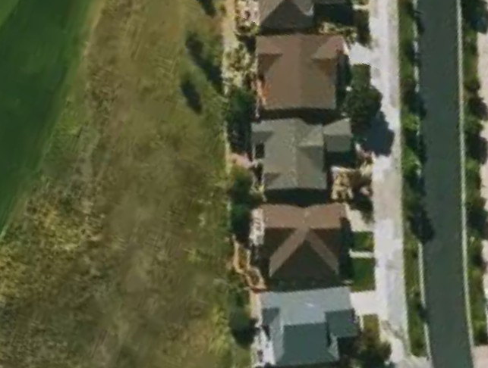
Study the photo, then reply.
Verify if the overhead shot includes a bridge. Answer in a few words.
No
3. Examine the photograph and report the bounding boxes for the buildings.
[262,290,357,368]
[257,34,346,110]
[252,118,353,192]
[253,0,348,28]
[259,205,347,282]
